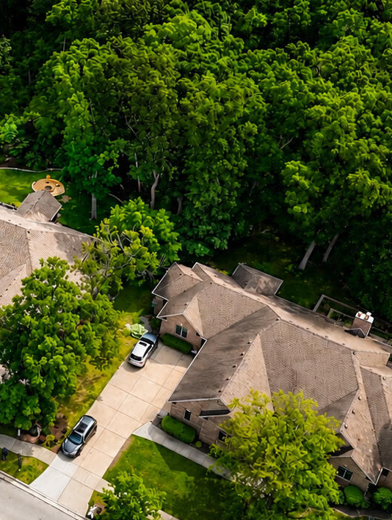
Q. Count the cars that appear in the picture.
2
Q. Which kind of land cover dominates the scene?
trees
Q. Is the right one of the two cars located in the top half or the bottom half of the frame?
bottom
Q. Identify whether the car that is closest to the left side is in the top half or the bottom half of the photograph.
bottom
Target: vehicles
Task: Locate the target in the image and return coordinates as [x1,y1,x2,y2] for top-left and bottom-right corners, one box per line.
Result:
[127,331,164,370]
[61,415,102,462]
